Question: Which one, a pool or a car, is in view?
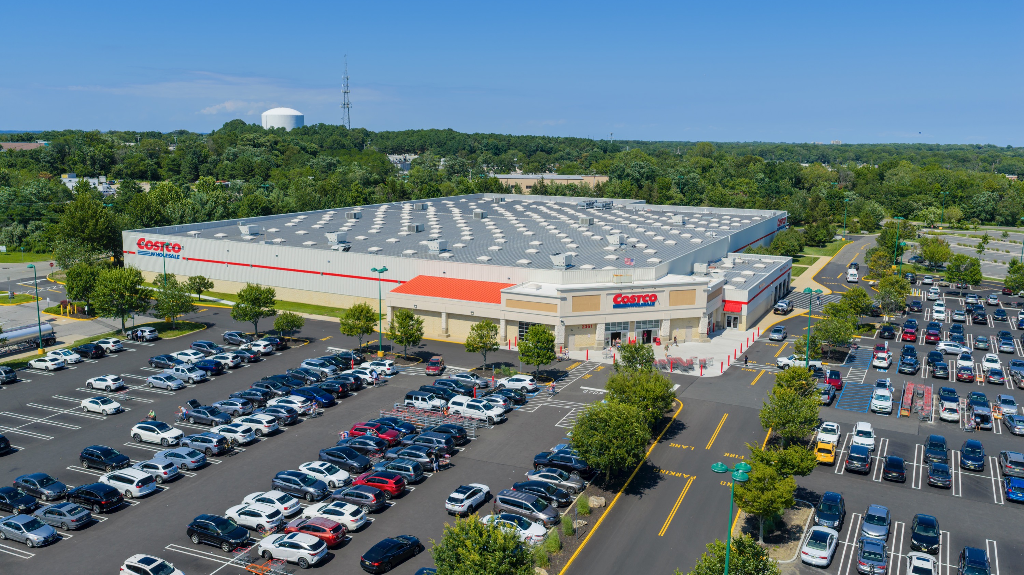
car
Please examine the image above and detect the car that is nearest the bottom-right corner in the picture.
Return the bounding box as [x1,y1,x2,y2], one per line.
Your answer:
[956,548,992,575]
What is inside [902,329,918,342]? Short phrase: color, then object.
red vehicle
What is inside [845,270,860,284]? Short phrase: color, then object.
white vehicle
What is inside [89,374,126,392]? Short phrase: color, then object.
white car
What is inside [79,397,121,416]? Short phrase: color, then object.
white car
